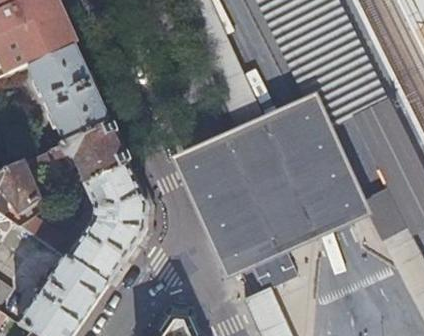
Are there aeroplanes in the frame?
No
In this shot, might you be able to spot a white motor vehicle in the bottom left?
Yes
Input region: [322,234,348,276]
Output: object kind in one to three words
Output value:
bus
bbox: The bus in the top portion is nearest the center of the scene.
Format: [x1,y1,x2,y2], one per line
[245,68,273,107]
